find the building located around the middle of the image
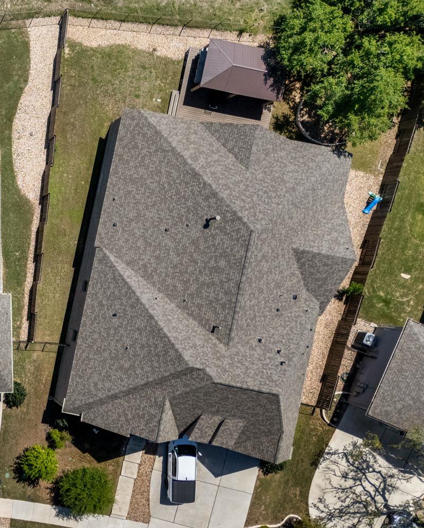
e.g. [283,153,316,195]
[50,109,355,464]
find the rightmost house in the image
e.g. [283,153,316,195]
[347,317,424,442]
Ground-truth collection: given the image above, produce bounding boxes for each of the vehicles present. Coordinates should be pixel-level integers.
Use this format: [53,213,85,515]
[167,431,201,503]
[386,511,417,528]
